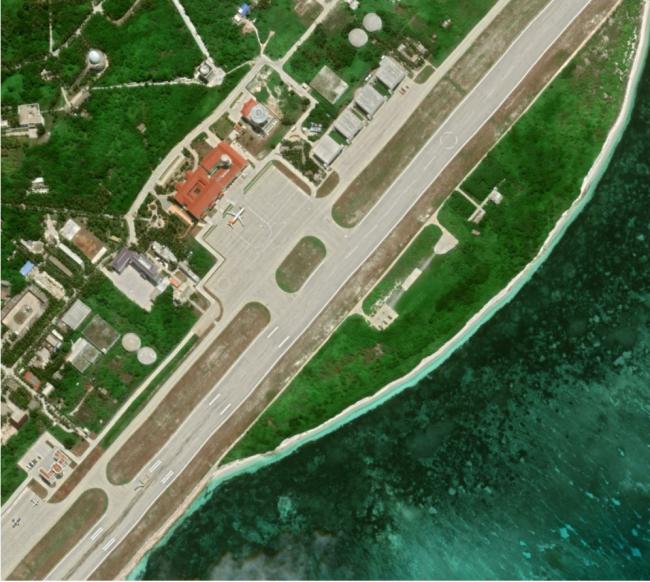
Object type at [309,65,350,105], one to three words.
sports court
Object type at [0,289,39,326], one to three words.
building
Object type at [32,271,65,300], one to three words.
house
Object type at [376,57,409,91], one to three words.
hangar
